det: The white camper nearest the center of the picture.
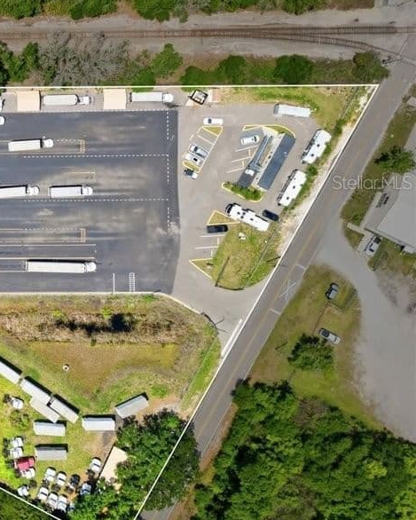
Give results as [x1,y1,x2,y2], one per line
[223,203,269,231]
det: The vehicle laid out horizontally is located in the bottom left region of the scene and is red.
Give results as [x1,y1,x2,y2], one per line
[4,454,35,469]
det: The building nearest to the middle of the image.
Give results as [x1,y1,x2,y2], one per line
[234,129,295,190]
